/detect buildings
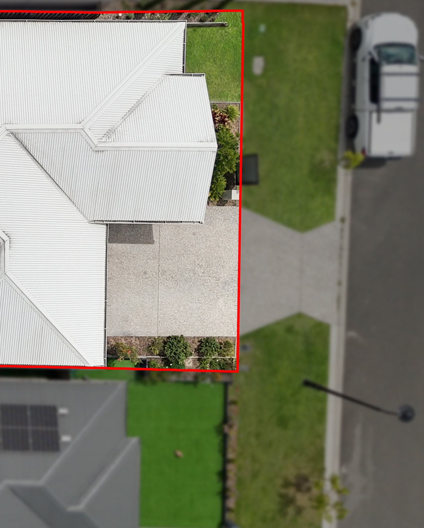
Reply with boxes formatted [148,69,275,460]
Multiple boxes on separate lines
[0,376,142,528]
[0,19,218,369]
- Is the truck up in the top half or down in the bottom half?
top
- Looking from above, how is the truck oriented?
vertically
